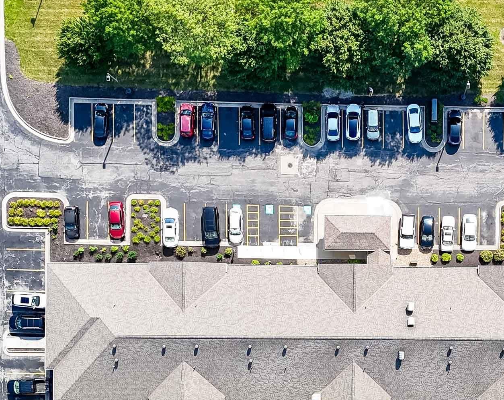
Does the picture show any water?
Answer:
No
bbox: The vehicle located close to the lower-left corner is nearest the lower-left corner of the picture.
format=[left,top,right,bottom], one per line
[7,379,51,396]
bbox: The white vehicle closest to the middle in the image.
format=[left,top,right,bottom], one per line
[227,206,244,244]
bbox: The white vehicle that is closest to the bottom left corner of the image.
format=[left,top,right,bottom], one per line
[12,291,46,309]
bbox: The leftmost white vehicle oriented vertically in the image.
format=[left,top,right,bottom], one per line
[161,209,180,247]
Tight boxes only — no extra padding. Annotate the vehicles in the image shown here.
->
[62,203,81,241]
[406,105,423,143]
[419,216,435,250]
[460,214,478,250]
[12,291,46,309]
[440,217,455,251]
[179,103,197,139]
[161,209,180,247]
[227,206,244,244]
[345,105,362,142]
[11,314,46,330]
[201,206,220,247]
[239,105,256,142]
[447,110,464,145]
[92,103,111,138]
[365,109,382,140]
[283,106,299,143]
[110,202,126,240]
[325,105,341,142]
[7,379,51,396]
[402,212,415,250]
